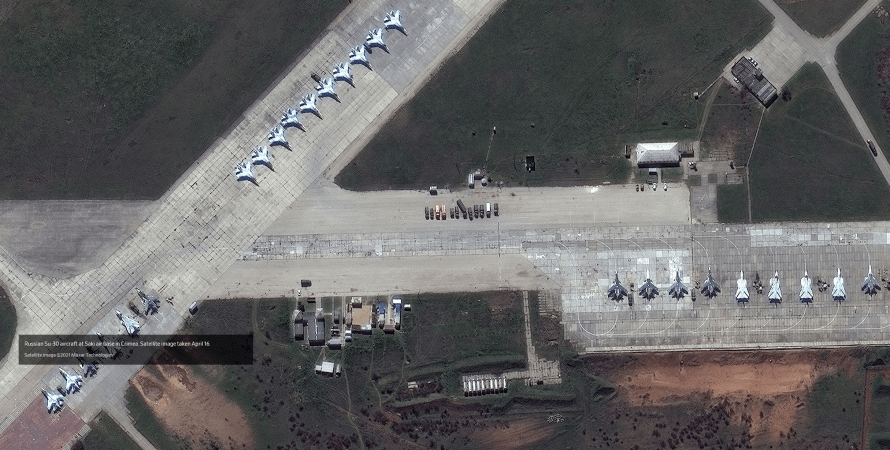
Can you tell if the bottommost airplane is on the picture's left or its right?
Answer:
left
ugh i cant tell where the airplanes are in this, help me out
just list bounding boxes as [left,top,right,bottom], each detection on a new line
[668,270,688,297]
[608,271,627,299]
[382,7,407,31]
[331,59,354,83]
[42,389,66,414]
[77,351,101,375]
[268,122,291,146]
[701,268,720,294]
[365,25,389,49]
[347,42,371,65]
[60,368,83,393]
[249,142,275,168]
[234,157,258,182]
[832,268,847,297]
[315,74,340,98]
[281,103,305,128]
[116,308,140,334]
[297,90,322,114]
[800,272,814,300]
[860,265,880,292]
[735,270,750,300]
[767,271,782,301]
[639,270,658,297]
[136,288,160,312]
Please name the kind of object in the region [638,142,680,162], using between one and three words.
building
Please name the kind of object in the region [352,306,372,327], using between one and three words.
building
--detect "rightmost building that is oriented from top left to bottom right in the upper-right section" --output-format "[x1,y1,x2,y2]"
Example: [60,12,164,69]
[731,58,776,103]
